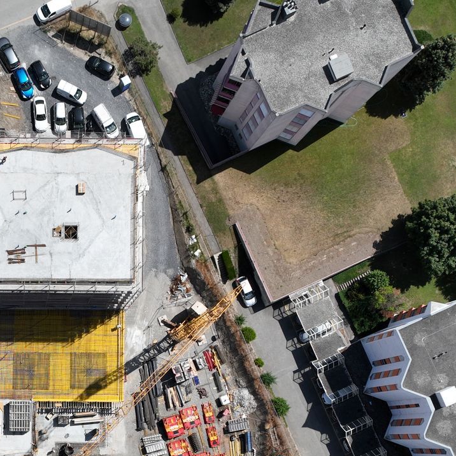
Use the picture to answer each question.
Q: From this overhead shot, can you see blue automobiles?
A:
Yes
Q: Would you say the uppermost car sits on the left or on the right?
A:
left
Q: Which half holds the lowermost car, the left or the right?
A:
right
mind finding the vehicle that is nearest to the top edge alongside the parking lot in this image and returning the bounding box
[36,0,74,24]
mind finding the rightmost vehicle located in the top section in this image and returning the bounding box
[123,110,148,142]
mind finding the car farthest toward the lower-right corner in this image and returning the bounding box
[329,436,356,456]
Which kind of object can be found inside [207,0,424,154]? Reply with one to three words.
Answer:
building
